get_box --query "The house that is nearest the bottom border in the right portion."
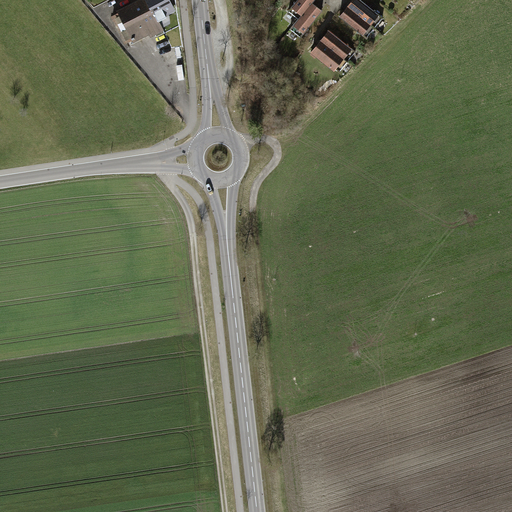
[312,32,355,74]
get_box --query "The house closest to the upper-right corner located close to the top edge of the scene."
[340,0,382,40]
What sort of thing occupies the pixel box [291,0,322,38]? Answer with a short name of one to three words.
house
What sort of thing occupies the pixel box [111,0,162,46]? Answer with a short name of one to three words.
house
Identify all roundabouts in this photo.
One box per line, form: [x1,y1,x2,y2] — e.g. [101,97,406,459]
[188,128,249,188]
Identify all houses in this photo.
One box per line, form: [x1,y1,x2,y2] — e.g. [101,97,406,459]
[340,0,382,40]
[111,0,162,46]
[312,32,355,74]
[291,0,322,38]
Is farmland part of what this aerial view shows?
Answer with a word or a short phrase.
Yes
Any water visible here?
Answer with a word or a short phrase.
No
